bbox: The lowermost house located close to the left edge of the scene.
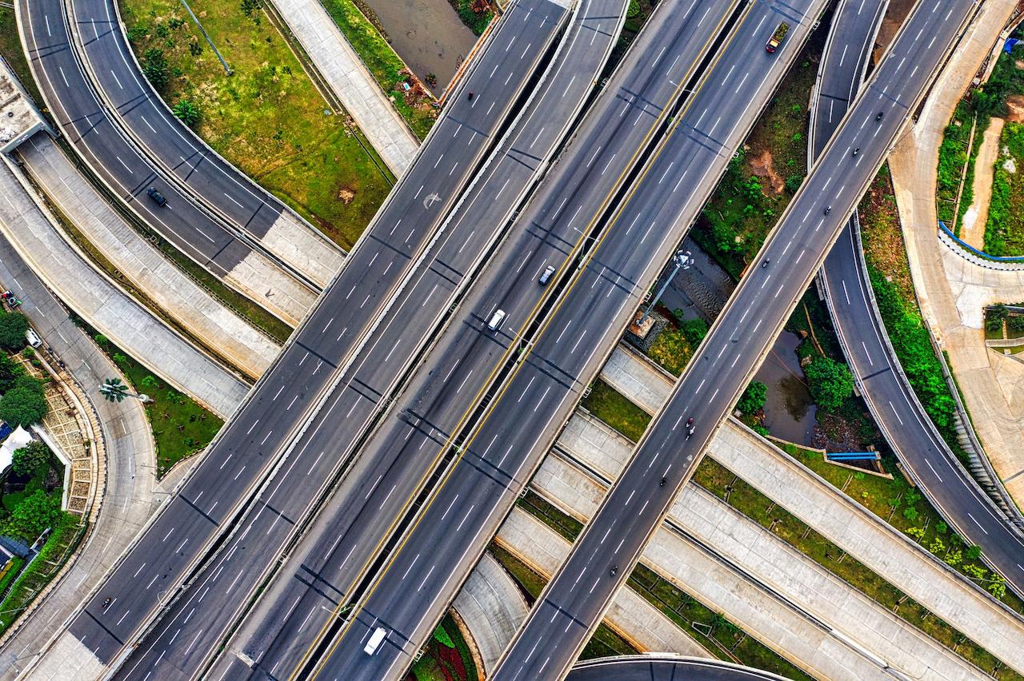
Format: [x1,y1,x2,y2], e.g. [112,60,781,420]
[0,540,34,572]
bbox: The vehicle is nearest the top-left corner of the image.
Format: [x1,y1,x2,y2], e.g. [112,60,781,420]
[144,185,166,206]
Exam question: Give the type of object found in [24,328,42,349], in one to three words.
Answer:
vehicle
